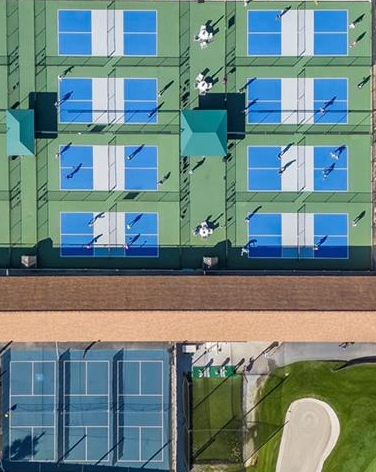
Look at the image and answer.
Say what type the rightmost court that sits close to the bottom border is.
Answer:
tennis court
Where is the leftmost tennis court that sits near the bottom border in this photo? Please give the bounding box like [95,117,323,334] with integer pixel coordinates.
[6,361,58,462]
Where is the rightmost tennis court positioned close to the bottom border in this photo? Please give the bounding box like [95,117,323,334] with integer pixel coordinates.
[115,361,166,462]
